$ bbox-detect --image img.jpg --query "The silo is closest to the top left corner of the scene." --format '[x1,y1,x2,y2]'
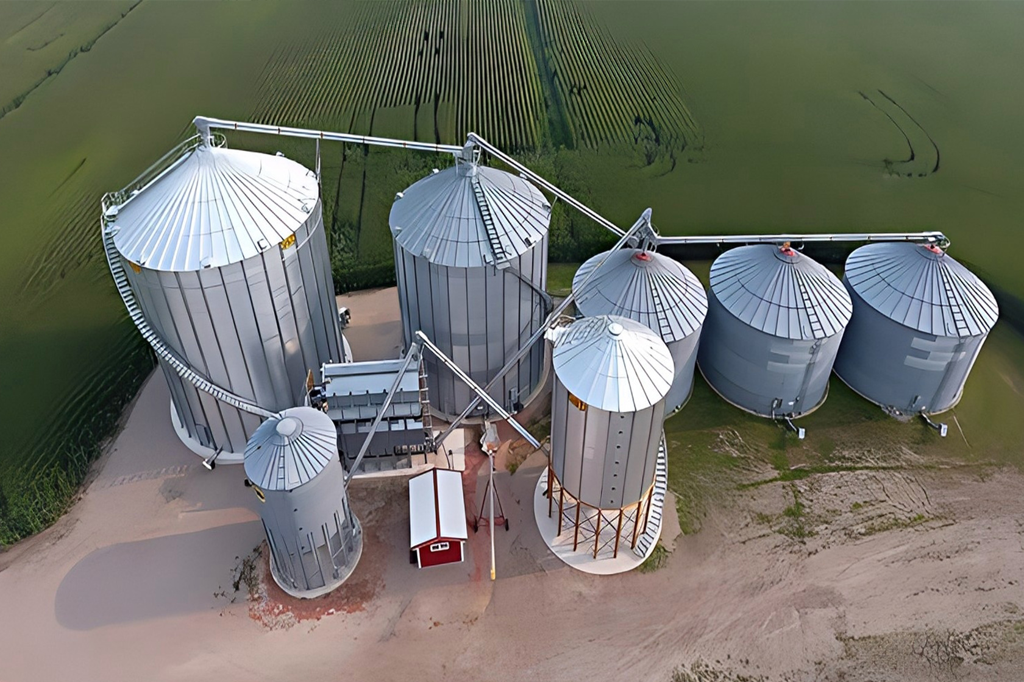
[94,131,354,463]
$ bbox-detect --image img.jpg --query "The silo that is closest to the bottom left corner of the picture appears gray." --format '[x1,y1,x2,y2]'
[242,418,365,597]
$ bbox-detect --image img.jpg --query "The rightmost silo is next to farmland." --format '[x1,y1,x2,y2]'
[831,252,1000,430]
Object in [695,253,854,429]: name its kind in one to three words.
silo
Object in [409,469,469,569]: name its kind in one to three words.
shed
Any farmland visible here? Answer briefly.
Yes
